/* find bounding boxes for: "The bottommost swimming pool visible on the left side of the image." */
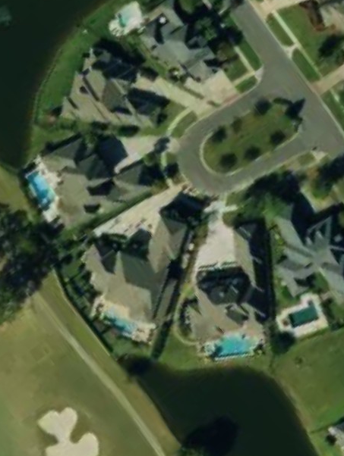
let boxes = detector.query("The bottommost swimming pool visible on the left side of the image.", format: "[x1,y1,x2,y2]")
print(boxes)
[93,297,155,341]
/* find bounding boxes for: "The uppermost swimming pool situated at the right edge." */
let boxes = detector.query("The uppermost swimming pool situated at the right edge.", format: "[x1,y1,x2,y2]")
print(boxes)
[276,295,329,336]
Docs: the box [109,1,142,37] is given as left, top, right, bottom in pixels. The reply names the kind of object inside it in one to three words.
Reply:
swimming pool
